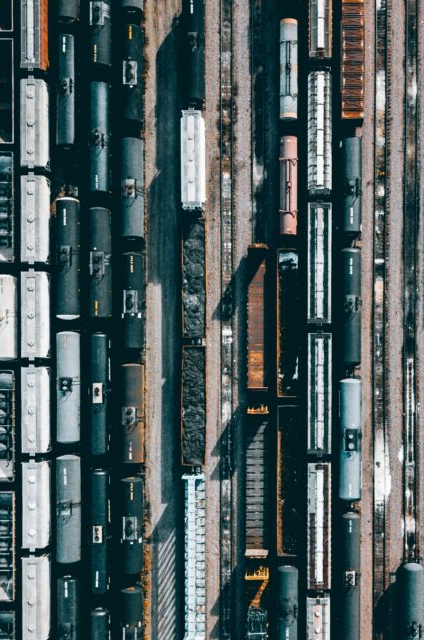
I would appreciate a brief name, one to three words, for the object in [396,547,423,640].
rail car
